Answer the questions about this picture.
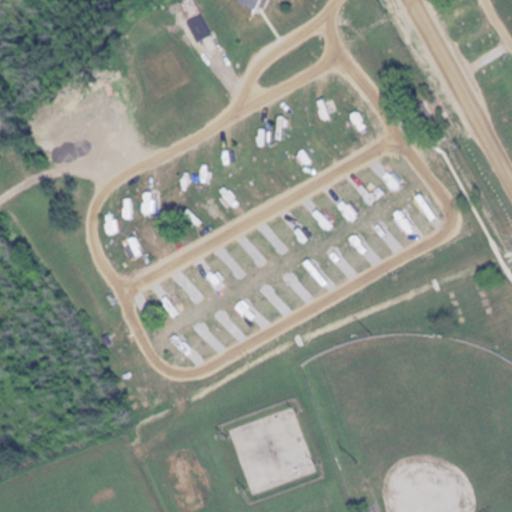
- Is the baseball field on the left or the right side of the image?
right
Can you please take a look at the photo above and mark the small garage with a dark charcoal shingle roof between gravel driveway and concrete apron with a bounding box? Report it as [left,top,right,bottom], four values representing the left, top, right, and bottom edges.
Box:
[186,14,212,41]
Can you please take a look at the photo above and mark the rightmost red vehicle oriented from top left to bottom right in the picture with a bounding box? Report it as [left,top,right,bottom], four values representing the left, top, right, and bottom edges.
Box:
[350,172,365,188]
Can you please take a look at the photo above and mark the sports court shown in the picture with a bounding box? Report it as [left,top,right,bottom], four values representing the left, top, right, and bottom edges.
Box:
[218,399,324,505]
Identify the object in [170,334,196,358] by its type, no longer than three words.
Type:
camper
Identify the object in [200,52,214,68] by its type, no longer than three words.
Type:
vehicle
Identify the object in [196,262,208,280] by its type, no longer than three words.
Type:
vehicle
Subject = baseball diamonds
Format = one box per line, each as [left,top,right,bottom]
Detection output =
[301,334,512,512]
